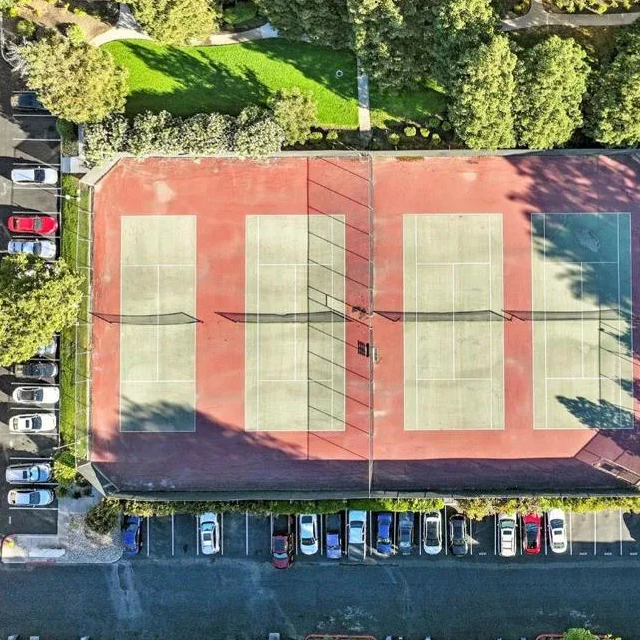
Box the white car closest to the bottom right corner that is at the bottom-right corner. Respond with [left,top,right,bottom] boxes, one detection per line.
[547,508,567,554]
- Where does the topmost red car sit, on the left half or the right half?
left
